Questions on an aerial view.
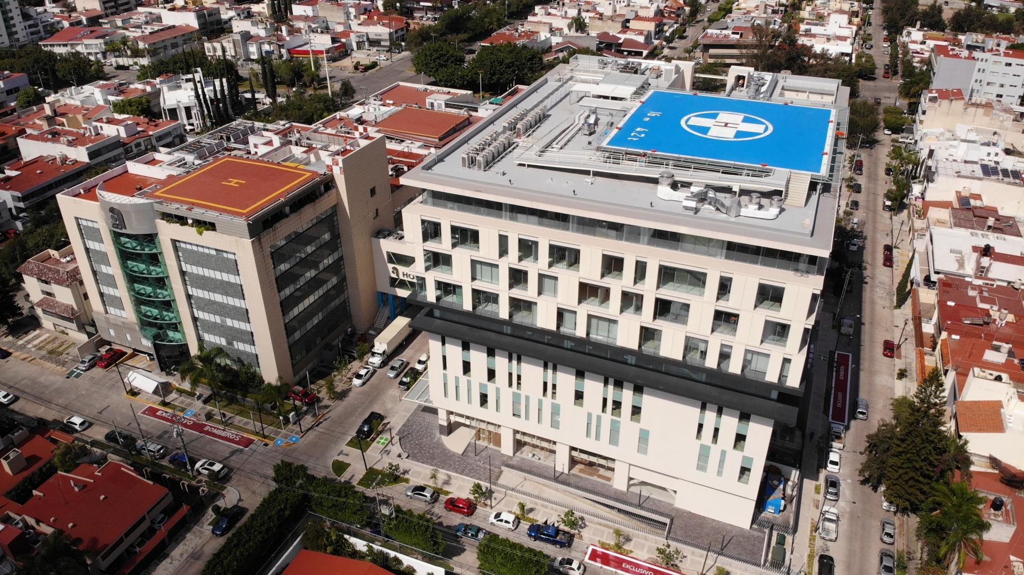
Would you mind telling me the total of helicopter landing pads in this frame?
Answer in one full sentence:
I count 2 helicopter landing pads.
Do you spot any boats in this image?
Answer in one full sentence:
No, no boat is visible in the view.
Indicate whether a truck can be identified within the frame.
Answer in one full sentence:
Yes, I can see a truck in this picture.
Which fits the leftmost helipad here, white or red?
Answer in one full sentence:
The leftmost helipad is red.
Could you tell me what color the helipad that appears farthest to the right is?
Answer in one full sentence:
The color of the helipad that appears farthest to the right is blue.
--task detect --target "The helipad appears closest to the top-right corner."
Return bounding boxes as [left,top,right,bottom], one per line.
[598,87,857,190]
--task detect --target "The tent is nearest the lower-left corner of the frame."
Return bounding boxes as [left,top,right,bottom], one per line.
[125,369,176,406]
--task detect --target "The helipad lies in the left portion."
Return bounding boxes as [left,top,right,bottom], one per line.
[139,154,325,238]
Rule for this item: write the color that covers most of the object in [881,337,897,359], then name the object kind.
red car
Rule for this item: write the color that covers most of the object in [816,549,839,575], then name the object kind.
black car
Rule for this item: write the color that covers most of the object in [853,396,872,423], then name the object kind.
gray car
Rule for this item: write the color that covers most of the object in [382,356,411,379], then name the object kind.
gray car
